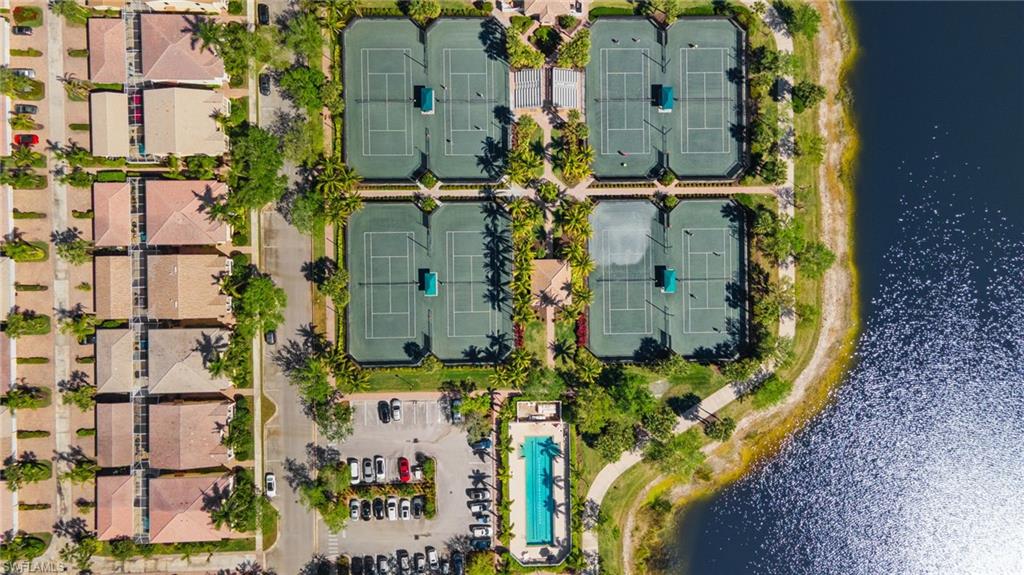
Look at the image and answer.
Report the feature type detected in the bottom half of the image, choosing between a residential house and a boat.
residential house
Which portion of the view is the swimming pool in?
bottom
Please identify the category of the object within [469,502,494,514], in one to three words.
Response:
vehicle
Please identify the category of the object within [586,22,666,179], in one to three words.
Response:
tennis court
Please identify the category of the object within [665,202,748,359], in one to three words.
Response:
tennis court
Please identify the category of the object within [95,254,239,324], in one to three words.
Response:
house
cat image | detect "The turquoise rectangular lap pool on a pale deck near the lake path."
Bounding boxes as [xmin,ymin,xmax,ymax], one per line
[509,421,570,565]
